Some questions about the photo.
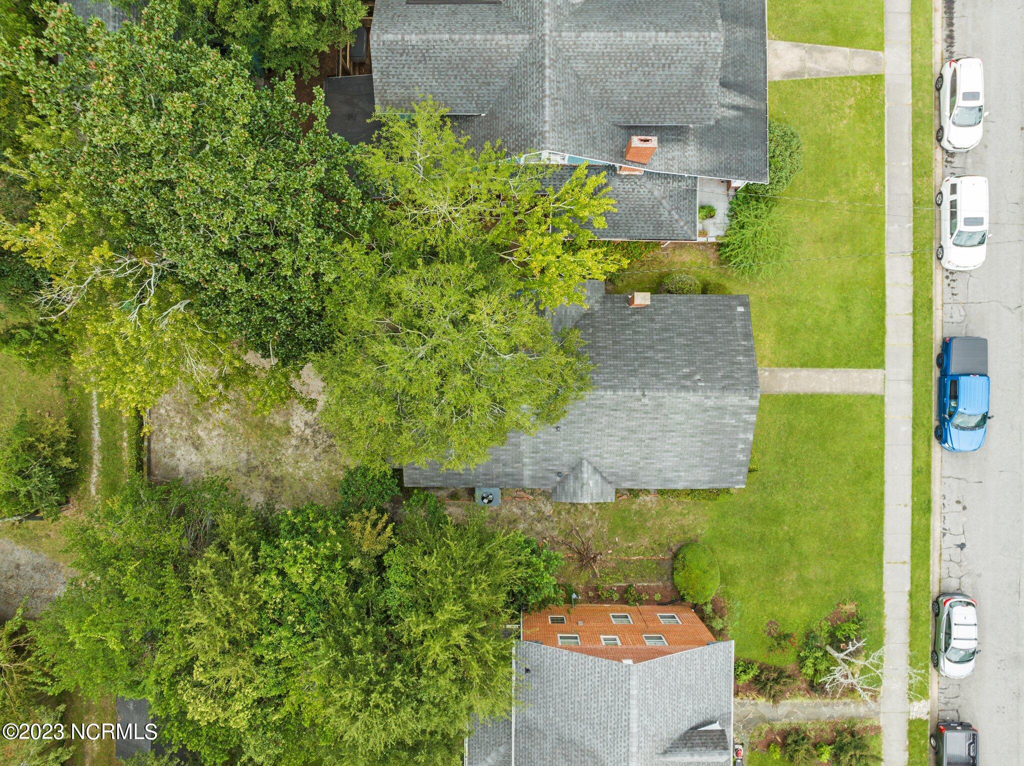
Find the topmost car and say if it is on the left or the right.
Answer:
right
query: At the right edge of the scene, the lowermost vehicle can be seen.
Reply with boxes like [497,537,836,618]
[932,715,983,766]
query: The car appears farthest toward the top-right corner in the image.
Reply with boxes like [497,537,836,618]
[936,56,991,157]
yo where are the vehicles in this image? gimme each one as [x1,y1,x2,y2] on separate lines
[936,56,991,157]
[932,591,987,680]
[932,715,983,766]
[936,338,995,454]
[937,175,994,274]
